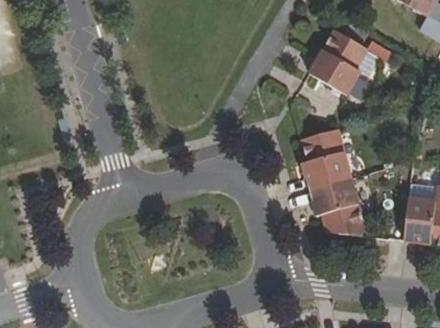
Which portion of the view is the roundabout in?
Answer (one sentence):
The roundabout sits in the bottom section of the image.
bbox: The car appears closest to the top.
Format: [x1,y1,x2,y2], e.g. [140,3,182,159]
[288,182,306,194]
